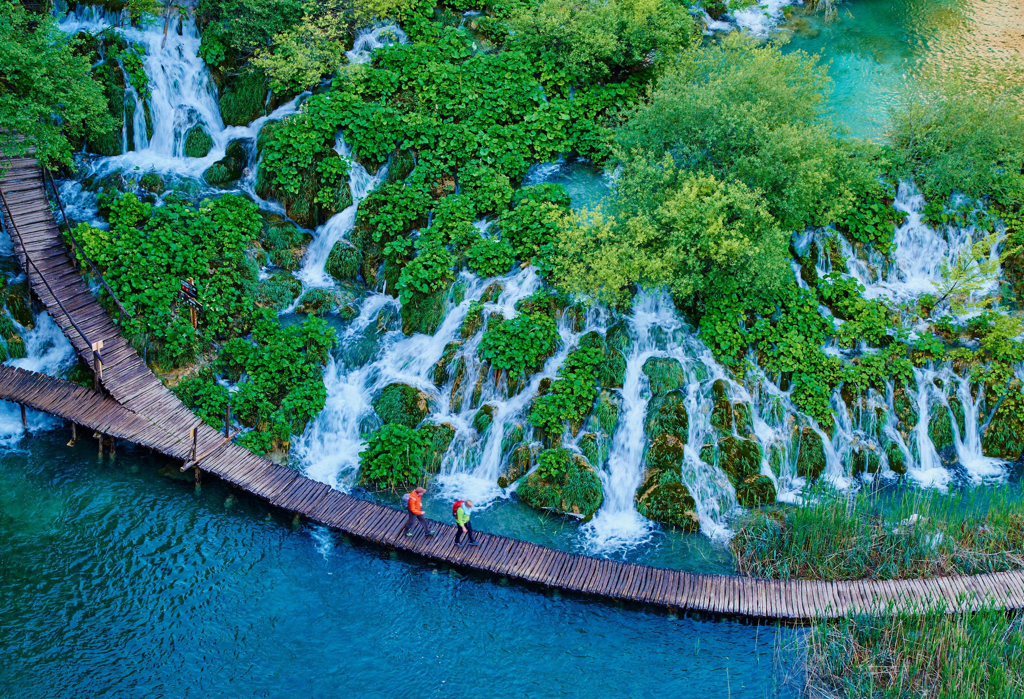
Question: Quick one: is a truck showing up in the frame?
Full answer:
No, there isn't any truck down there.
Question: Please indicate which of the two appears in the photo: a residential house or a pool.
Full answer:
Of the two, only a pool appears.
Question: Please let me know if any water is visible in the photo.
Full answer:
Yes, there's water in this view.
